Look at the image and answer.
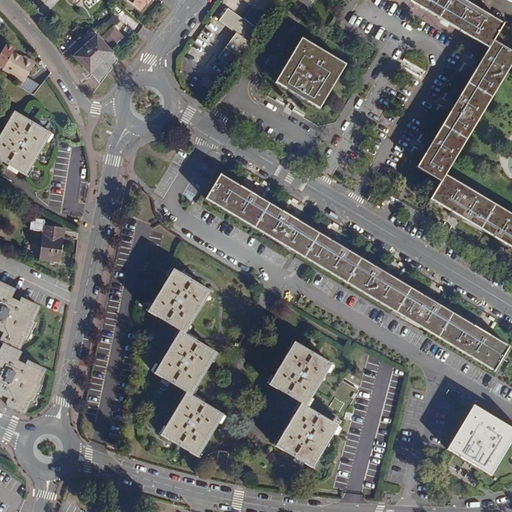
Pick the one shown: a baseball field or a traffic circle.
traffic circle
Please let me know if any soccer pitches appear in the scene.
No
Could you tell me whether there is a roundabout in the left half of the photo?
Yes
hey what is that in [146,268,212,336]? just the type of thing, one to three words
building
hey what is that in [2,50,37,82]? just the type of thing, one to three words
house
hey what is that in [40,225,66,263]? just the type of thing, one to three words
house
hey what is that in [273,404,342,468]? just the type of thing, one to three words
building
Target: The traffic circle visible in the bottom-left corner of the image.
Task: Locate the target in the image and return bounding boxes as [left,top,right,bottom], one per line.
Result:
[18,420,76,478]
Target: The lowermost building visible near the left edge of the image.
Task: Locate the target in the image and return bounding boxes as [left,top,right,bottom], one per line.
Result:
[0,341,47,414]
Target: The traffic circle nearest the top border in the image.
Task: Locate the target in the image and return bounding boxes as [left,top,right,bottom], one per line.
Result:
[117,72,177,132]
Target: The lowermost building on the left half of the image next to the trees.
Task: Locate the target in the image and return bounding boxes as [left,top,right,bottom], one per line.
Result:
[158,392,227,458]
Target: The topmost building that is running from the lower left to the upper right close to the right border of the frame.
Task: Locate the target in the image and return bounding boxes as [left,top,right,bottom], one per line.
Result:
[414,42,512,182]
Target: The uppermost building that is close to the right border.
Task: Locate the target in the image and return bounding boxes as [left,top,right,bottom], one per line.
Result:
[404,0,505,49]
